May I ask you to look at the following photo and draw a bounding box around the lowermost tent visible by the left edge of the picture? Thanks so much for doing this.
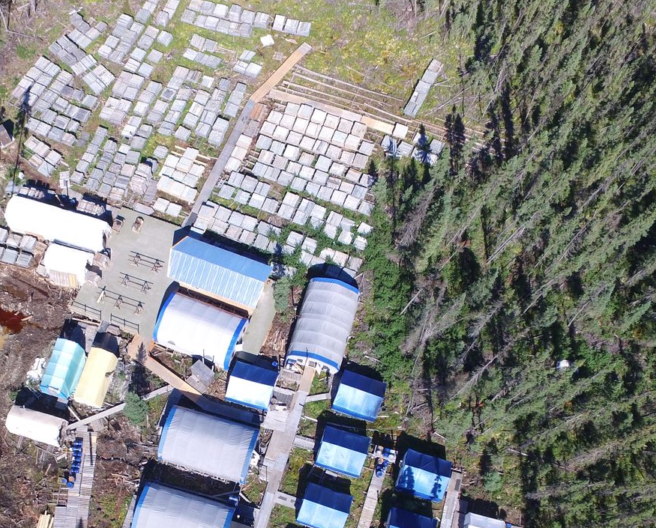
[5,405,70,448]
